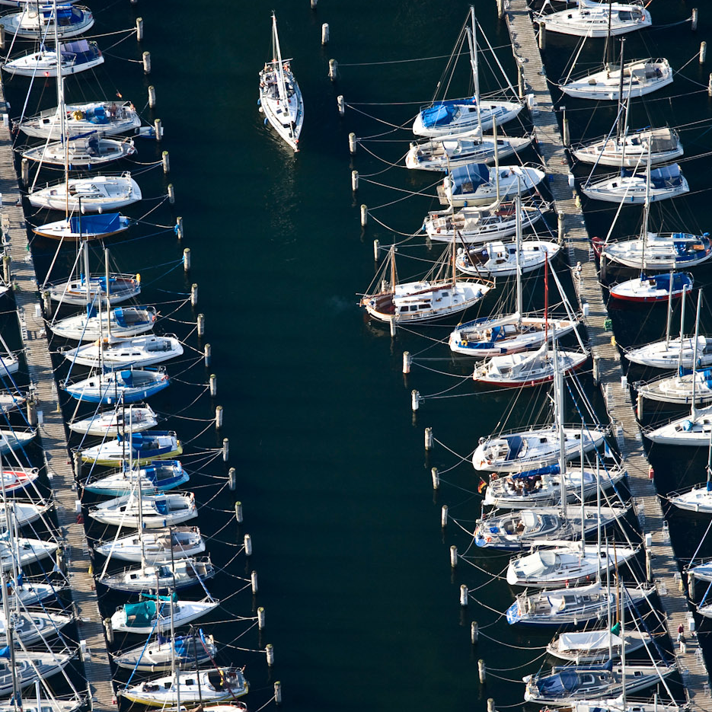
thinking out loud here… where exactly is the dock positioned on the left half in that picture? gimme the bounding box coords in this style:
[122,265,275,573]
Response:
[0,80,118,712]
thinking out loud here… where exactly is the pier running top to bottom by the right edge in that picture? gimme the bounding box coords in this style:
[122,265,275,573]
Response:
[502,0,712,712]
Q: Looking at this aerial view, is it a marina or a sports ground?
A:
marina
